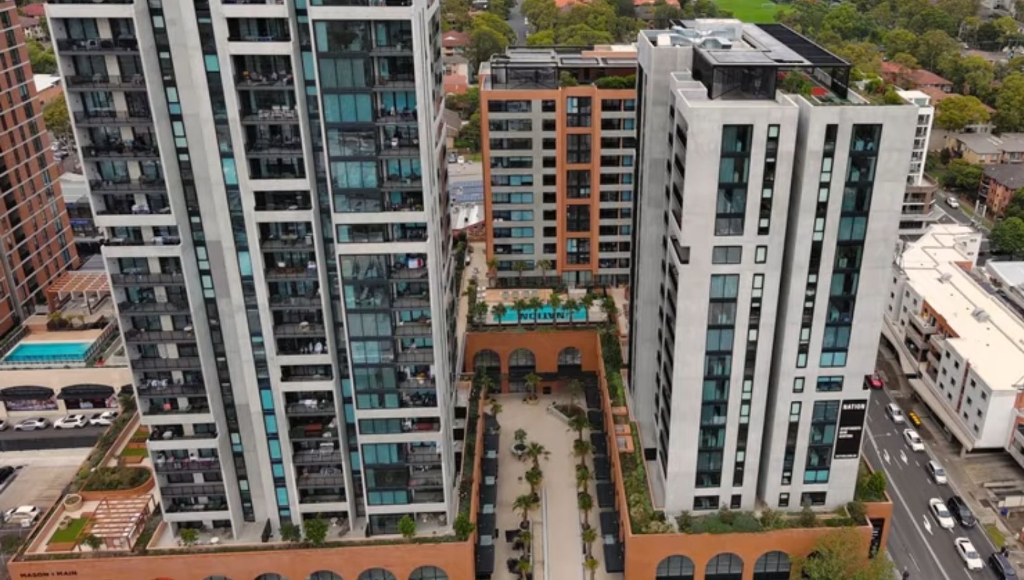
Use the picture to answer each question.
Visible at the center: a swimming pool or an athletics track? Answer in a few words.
swimming pool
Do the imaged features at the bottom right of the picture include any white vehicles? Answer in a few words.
Yes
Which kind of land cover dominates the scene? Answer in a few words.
buildings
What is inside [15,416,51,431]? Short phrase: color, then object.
gray car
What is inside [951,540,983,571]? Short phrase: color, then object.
white car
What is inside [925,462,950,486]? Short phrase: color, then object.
gray car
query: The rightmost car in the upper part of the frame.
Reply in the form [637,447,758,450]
[945,194,959,208]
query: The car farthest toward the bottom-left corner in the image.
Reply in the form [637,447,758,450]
[1,505,41,526]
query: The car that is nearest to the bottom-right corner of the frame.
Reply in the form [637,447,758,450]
[988,553,1020,580]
